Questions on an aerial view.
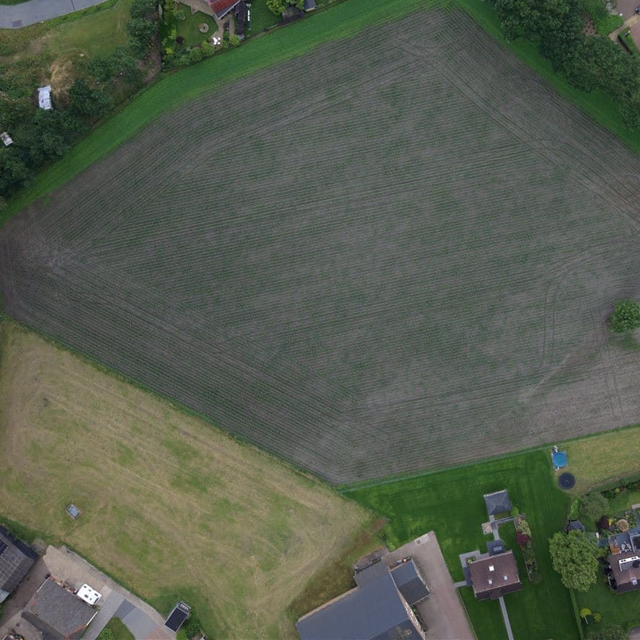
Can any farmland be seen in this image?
Yes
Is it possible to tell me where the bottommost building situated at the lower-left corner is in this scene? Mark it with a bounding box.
[16,575,101,640]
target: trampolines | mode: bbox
[558,472,575,489]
